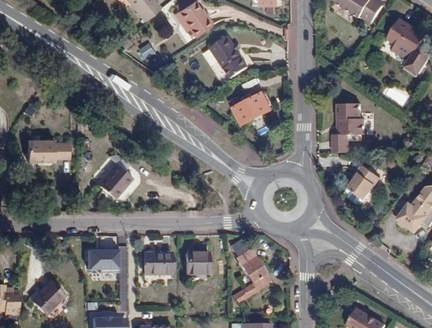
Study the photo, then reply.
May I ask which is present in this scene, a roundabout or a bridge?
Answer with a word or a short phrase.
roundabout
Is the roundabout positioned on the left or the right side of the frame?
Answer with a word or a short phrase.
right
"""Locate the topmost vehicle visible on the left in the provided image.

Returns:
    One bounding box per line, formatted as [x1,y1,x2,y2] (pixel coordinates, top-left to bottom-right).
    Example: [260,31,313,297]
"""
[109,74,131,90]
